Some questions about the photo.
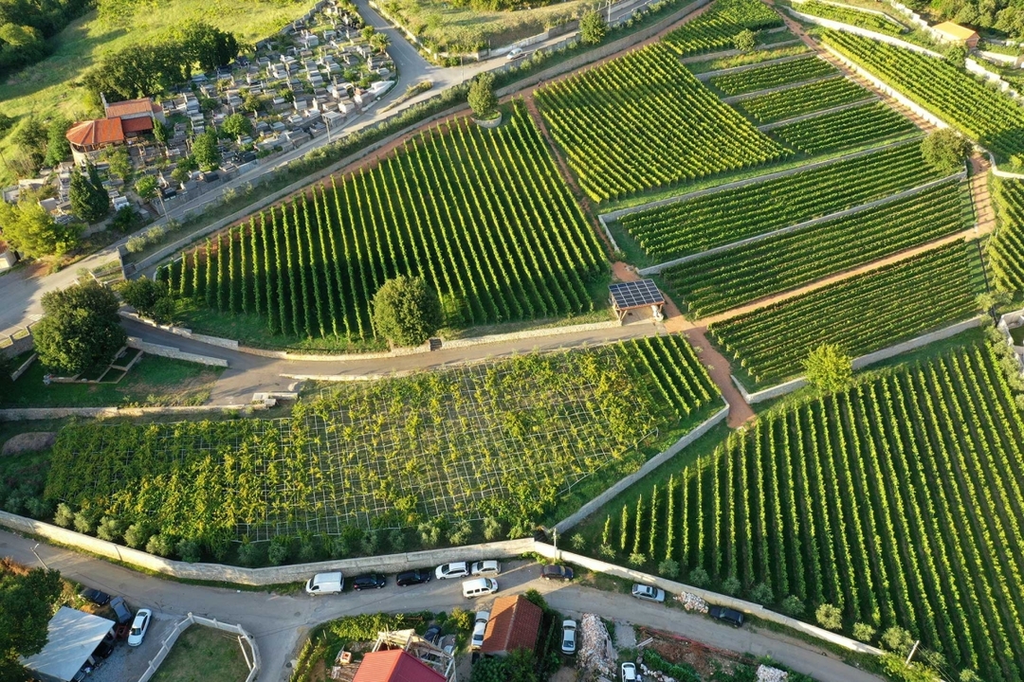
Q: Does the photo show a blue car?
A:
Yes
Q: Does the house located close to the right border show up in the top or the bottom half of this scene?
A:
top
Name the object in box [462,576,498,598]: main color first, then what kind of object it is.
white vehicle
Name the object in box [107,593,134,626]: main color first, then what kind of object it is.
blue car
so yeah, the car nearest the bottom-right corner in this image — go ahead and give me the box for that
[709,606,744,629]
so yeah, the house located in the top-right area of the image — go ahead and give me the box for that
[930,19,974,54]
